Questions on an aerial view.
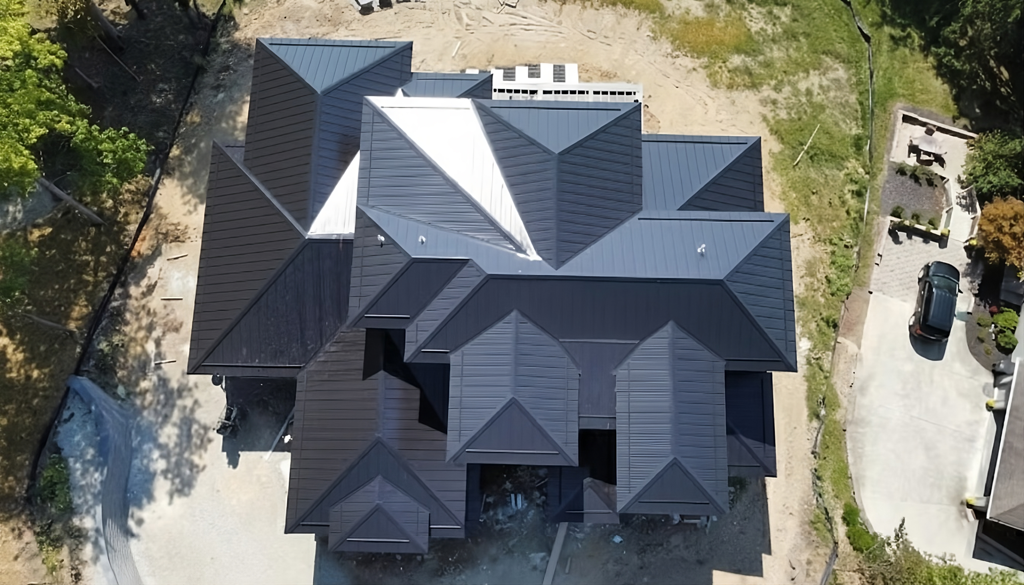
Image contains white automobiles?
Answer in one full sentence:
No, there's no white automobile here.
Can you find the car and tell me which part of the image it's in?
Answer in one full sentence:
The car appears toward the right of the photo.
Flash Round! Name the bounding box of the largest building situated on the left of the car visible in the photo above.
[186,37,797,555]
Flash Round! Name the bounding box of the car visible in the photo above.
[909,262,962,349]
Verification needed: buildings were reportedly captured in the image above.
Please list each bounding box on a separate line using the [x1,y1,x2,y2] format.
[973,262,1024,538]
[186,37,797,555]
